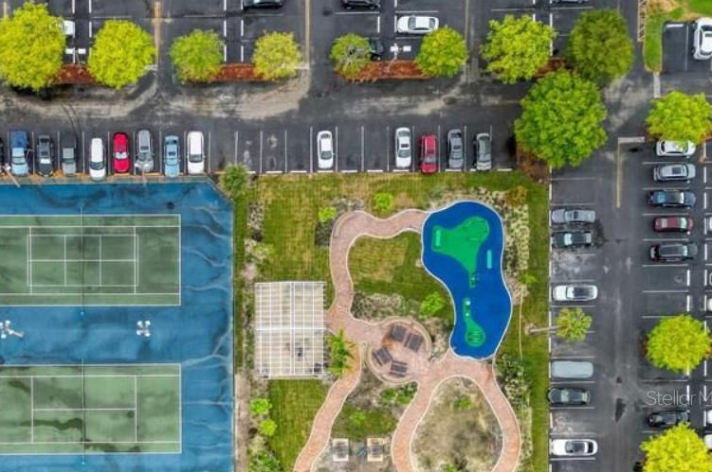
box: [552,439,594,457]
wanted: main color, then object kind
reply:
white car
